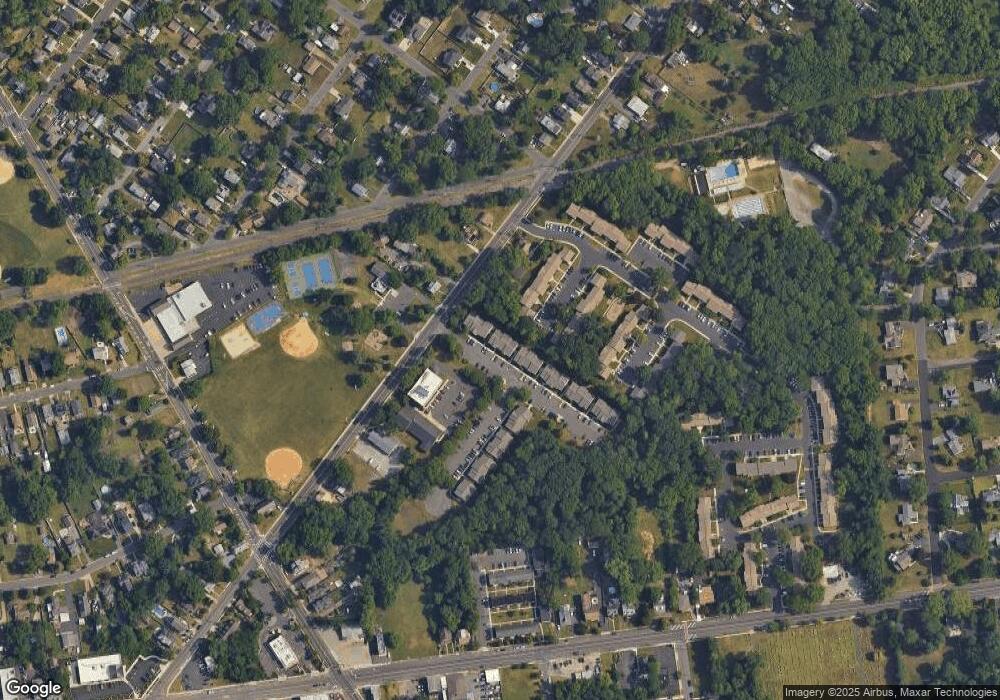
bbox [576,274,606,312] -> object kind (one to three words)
building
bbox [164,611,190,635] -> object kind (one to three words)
house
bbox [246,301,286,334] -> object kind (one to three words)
sports court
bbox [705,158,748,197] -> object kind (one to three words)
swimming pool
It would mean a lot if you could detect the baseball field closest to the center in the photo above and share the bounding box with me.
[279,312,320,359]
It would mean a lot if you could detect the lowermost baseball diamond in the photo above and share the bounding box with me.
[266,446,303,495]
